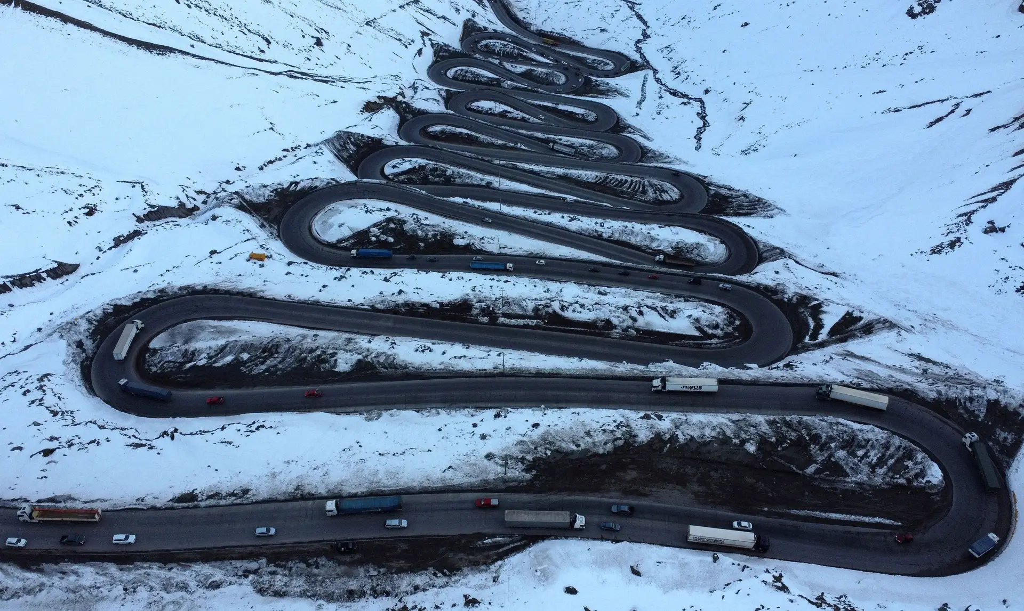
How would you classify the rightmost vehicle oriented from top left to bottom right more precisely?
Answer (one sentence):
What you see as the rightmost vehicle oriented from top left to bottom right is a truck.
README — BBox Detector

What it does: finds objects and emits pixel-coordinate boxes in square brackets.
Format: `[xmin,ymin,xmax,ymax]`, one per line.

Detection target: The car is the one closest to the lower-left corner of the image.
[1,536,32,549]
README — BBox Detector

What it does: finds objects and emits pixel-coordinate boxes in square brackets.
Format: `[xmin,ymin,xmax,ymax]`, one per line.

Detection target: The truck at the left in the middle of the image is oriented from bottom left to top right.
[113,320,149,359]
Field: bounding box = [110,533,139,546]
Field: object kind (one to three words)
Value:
vehicle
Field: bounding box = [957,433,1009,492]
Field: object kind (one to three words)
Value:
truck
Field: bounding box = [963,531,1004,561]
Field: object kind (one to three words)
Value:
truck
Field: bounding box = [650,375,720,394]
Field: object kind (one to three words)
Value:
vehicle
